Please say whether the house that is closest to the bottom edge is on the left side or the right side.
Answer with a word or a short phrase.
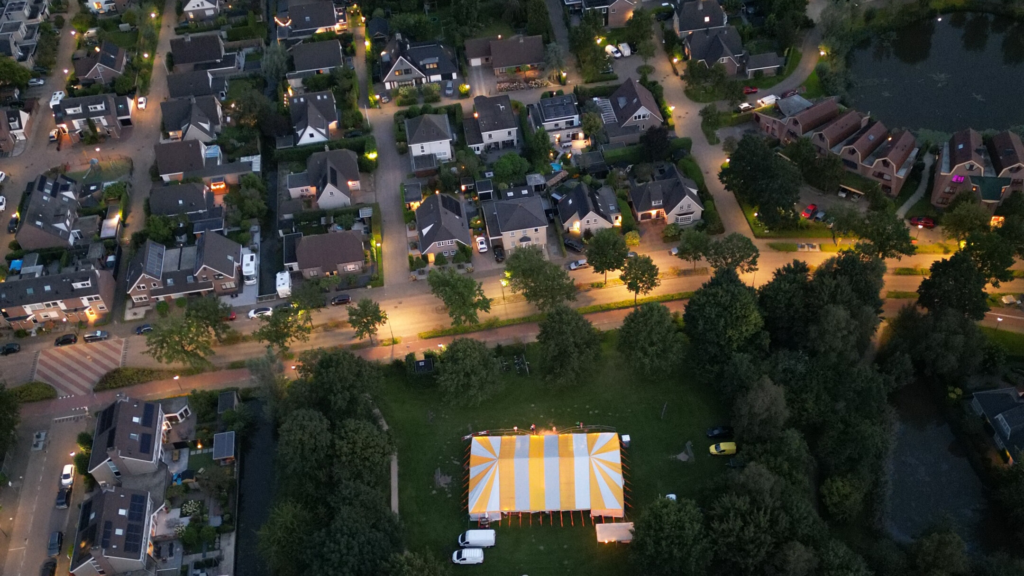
left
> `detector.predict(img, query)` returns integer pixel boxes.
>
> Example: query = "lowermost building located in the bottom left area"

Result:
[68,484,169,576]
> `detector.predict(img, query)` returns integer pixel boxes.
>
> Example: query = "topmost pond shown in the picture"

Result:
[847,9,1024,137]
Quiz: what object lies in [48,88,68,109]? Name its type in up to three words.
camper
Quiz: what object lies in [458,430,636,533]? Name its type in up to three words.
tent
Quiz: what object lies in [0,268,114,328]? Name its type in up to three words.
house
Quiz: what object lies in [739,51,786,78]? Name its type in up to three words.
building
